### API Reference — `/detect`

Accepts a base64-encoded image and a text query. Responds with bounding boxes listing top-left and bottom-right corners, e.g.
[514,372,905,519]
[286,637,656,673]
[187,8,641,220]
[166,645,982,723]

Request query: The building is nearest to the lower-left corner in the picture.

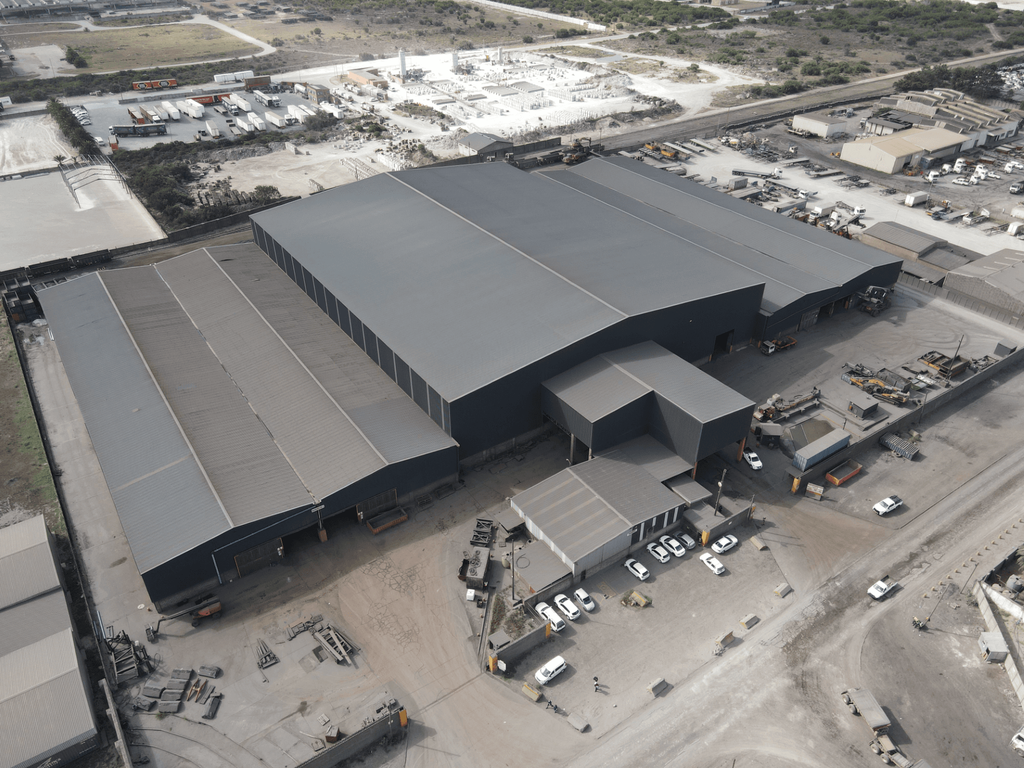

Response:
[0,514,116,768]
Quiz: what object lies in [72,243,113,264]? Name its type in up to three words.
rail car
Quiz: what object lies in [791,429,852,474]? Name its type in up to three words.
shipping container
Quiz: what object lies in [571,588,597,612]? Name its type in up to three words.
car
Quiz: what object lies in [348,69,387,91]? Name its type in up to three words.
building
